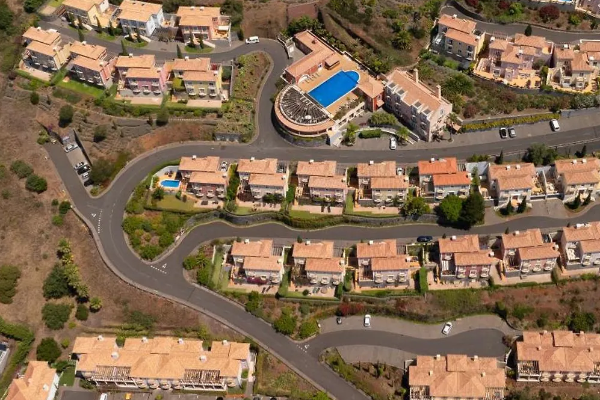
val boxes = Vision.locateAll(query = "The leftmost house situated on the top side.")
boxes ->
[10,20,73,82]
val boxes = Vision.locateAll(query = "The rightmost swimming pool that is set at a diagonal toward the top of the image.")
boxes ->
[307,69,361,110]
